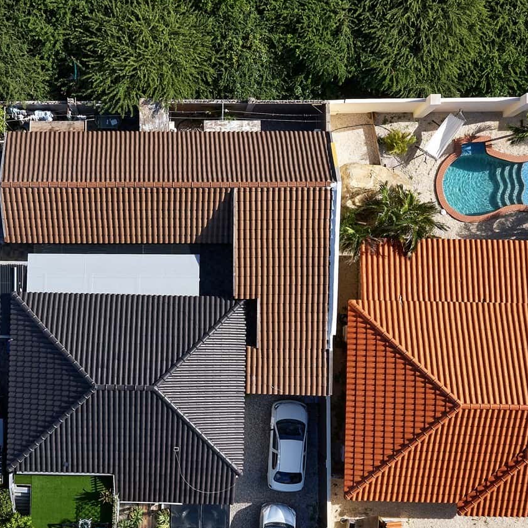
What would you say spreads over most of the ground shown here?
buildings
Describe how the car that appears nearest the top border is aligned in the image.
up and down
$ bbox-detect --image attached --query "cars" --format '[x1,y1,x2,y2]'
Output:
[257,499,297,528]
[266,398,312,494]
